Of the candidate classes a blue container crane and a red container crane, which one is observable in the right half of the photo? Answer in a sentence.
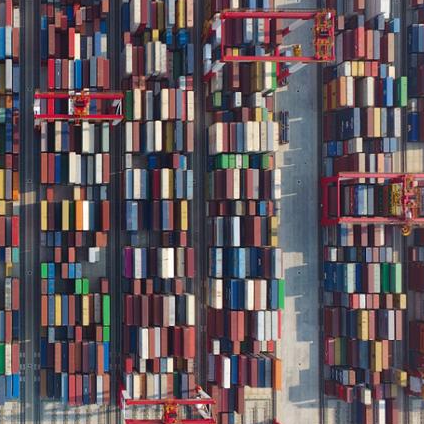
What appears in the right half of the photo is a red container crane.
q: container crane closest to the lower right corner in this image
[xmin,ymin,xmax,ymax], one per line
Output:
[394,366,424,424]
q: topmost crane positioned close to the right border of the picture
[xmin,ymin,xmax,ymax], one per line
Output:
[312,169,424,237]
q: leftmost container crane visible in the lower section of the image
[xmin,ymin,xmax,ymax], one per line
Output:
[116,378,216,424]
